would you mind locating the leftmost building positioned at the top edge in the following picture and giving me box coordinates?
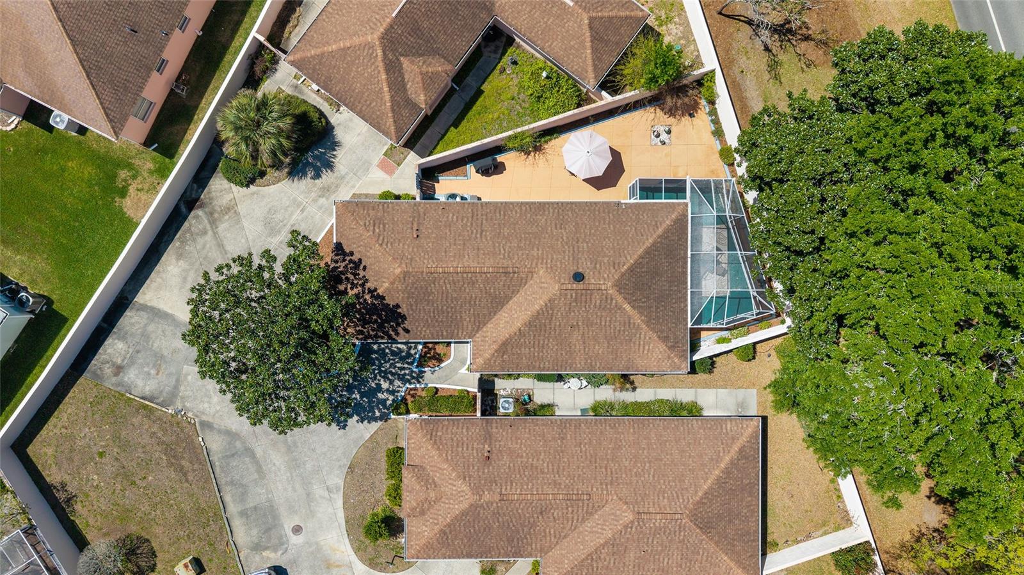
[0,0,214,146]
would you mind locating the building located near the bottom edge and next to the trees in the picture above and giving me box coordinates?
[385,414,765,575]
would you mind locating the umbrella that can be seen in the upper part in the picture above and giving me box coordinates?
[562,130,612,181]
